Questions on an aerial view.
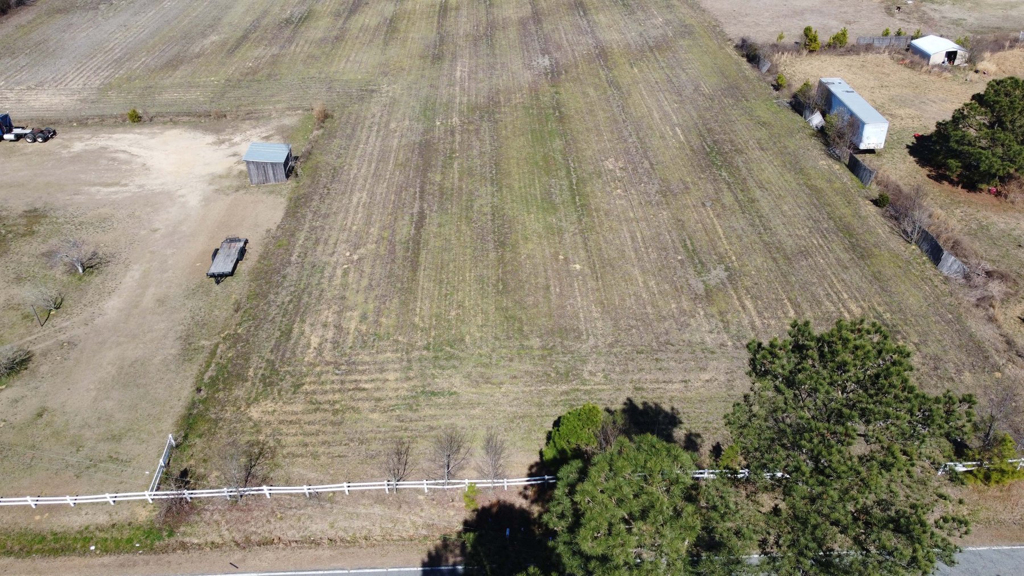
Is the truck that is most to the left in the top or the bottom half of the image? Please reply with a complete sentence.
The top half of the photo is where the truck that is most to the left is.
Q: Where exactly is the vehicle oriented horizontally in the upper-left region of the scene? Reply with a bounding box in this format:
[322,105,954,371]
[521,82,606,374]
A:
[0,106,64,142]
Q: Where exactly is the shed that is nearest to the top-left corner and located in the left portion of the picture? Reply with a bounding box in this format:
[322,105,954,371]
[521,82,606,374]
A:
[240,145,291,185]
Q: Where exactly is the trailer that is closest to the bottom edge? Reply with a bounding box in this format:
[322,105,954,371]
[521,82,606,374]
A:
[205,235,246,288]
